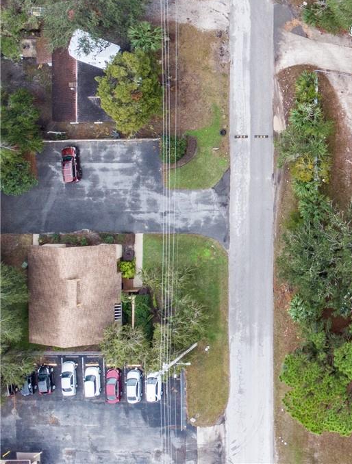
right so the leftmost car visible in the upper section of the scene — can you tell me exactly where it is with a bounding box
[60,146,82,184]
